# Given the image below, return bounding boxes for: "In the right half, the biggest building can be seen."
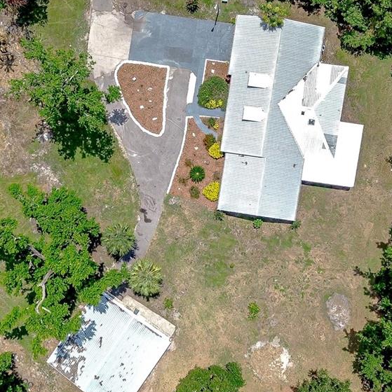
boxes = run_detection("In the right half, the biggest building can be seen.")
[218,14,364,222]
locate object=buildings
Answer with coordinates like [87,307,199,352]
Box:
[218,14,364,222]
[47,291,173,392]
